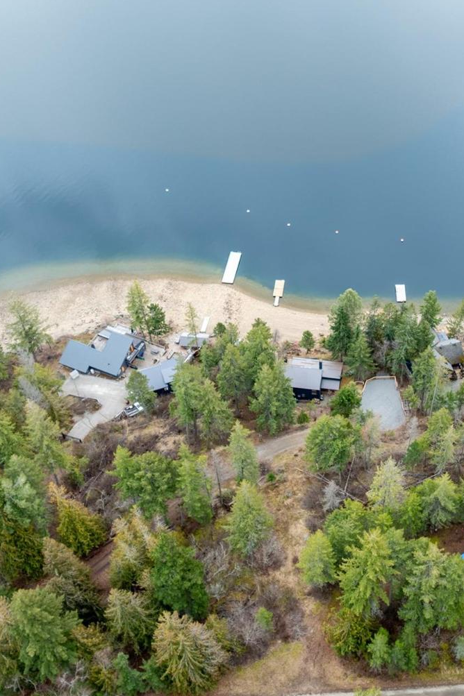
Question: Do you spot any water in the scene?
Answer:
Yes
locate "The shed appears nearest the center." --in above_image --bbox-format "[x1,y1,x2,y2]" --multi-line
[180,333,209,355]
